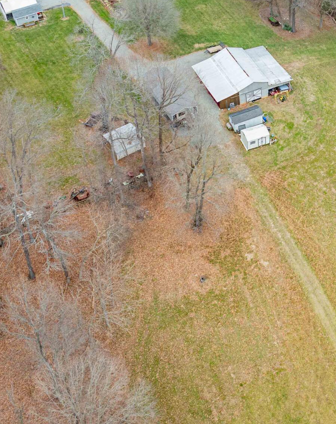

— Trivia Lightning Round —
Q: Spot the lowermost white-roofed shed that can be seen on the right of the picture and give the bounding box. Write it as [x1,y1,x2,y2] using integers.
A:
[240,125,269,151]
